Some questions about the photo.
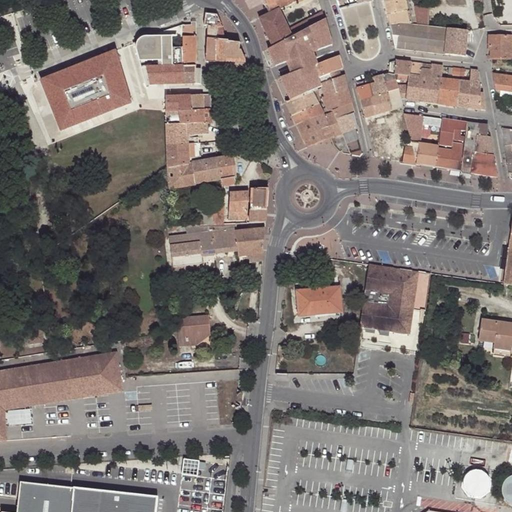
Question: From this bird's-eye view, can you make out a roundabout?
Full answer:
Yes, the image includes a roundabout.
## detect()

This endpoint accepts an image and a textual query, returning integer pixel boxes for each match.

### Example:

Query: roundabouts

[277,165,339,227]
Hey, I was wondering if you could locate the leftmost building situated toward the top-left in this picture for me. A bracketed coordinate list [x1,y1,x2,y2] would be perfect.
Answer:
[40,48,130,130]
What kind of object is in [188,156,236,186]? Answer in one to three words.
house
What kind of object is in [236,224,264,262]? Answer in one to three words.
house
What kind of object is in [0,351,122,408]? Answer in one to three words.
building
